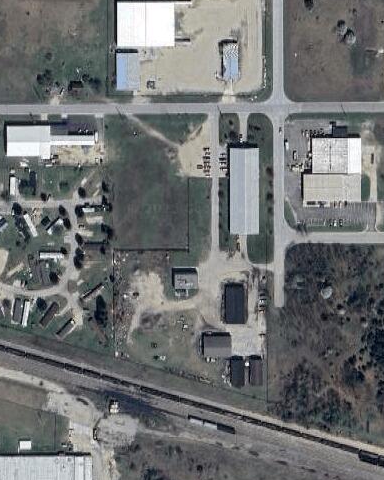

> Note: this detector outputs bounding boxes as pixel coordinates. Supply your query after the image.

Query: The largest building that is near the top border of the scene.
[117,2,175,47]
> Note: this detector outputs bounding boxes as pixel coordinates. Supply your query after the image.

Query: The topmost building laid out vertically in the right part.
[223,43,238,81]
